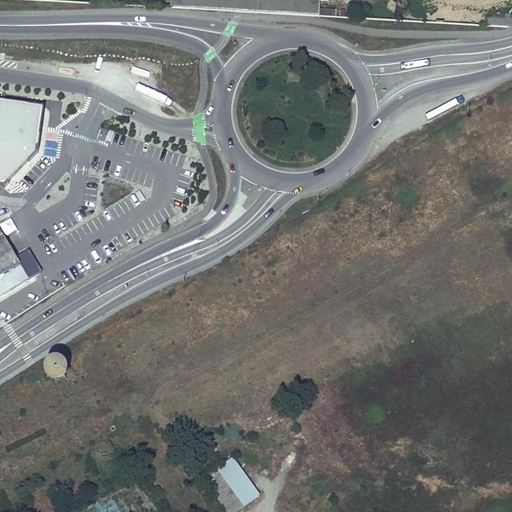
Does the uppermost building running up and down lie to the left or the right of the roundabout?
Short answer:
to the left of it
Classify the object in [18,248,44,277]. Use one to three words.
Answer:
building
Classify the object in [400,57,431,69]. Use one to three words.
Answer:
vehicle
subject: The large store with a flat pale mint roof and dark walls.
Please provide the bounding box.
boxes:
[0,98,45,192]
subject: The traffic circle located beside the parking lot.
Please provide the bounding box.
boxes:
[213,29,376,192]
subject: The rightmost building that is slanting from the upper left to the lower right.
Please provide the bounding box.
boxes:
[220,458,260,506]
